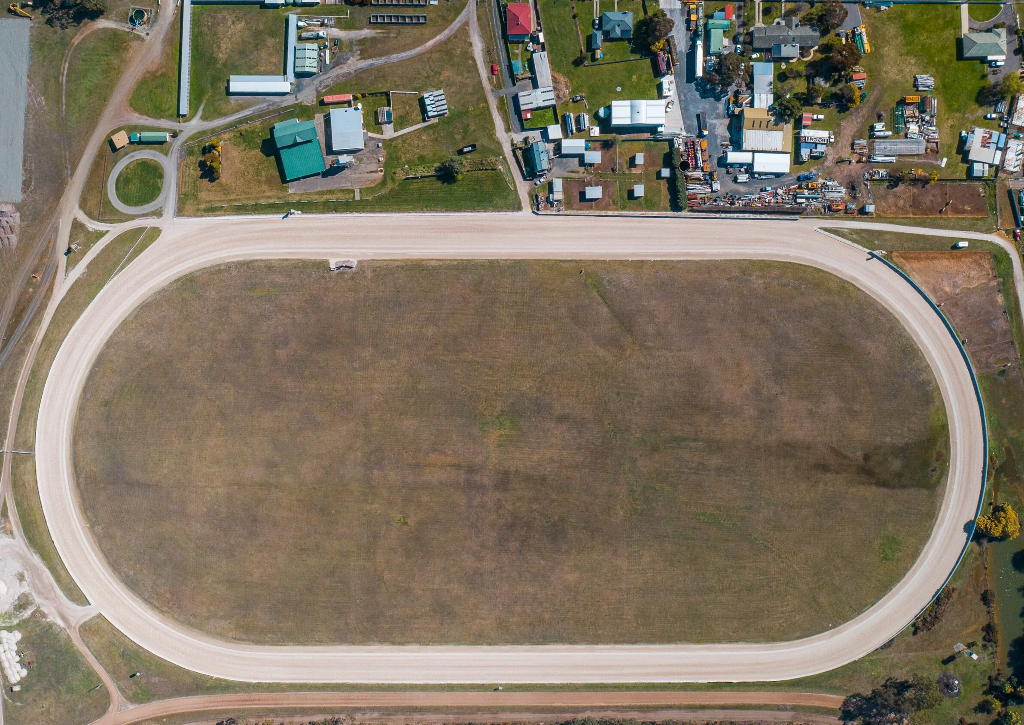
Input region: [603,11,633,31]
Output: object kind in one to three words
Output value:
house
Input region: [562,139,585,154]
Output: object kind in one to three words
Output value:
shed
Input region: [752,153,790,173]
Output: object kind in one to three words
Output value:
shed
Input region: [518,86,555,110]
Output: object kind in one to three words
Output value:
building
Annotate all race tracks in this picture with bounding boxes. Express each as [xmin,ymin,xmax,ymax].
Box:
[35,216,988,683]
